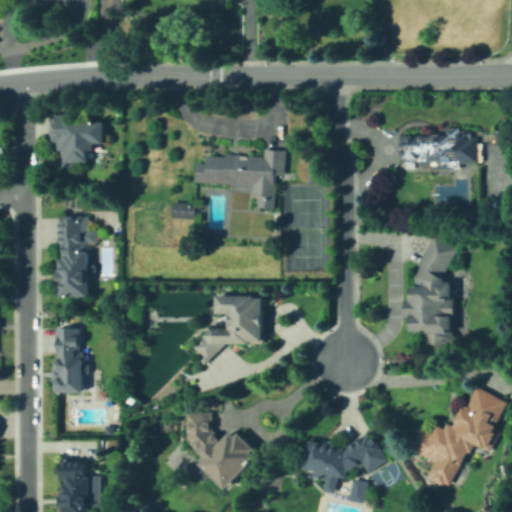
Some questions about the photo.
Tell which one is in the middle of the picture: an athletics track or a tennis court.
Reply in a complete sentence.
Visible in the middle of the picture is a tennis court.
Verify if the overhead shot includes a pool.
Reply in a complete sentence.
Yes, the frame does contain a pool.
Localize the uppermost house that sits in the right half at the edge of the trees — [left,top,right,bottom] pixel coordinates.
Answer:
[401,124,484,170]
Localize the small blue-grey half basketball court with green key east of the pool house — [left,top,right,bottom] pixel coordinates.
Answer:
[374,462,404,488]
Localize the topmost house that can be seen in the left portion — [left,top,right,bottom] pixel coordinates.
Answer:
[48,114,102,167]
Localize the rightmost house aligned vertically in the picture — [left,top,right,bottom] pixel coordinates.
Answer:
[407,237,455,350]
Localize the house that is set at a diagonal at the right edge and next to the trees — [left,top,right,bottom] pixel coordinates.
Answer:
[416,388,507,490]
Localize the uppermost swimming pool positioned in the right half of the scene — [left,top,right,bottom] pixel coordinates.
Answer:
[436,179,469,203]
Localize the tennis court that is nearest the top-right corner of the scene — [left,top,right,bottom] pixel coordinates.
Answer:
[284,184,330,272]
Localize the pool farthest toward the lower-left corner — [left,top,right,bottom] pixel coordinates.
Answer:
[75,408,108,426]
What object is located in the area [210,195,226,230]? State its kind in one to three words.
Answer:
swimming pool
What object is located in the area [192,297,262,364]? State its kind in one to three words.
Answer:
house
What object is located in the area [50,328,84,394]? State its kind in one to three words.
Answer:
house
